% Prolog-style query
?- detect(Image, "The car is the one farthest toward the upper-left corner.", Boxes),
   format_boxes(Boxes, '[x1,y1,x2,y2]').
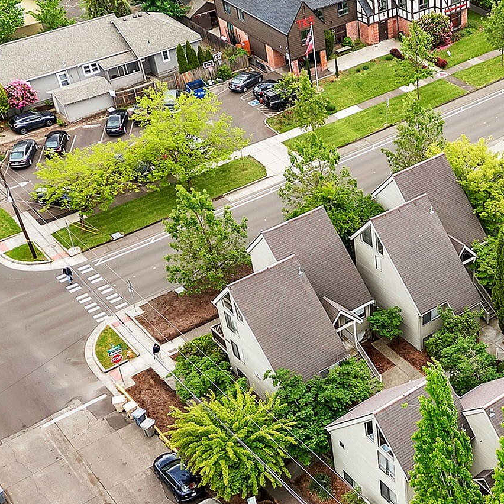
[7,110,56,135]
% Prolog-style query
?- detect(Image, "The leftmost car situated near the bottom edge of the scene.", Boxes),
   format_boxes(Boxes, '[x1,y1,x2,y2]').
[151,454,203,504]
